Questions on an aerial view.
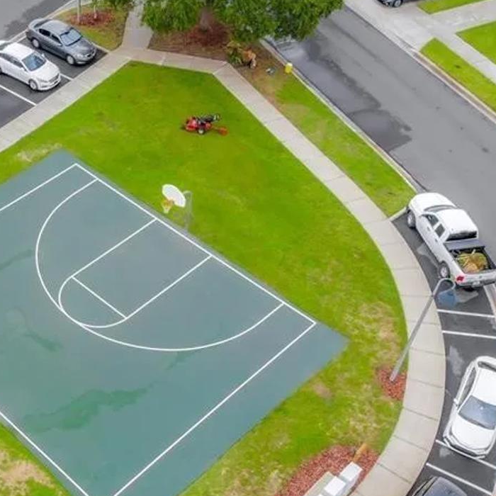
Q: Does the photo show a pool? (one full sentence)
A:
No, the picture doesn't show any pool.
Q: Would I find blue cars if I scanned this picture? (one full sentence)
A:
No, the scene contains no blue car.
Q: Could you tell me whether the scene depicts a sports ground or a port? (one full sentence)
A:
It's a sports ground.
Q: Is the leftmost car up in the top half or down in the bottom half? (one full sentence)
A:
The leftmost car is in the top half of the image.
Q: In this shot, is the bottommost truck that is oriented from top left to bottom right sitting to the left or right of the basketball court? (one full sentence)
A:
Relative to the basketball court, the bottommost truck that is oriented from top left to bottom right lies to the right.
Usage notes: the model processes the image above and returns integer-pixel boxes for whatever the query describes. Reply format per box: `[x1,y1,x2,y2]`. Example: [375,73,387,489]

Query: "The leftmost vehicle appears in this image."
[0,43,58,94]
